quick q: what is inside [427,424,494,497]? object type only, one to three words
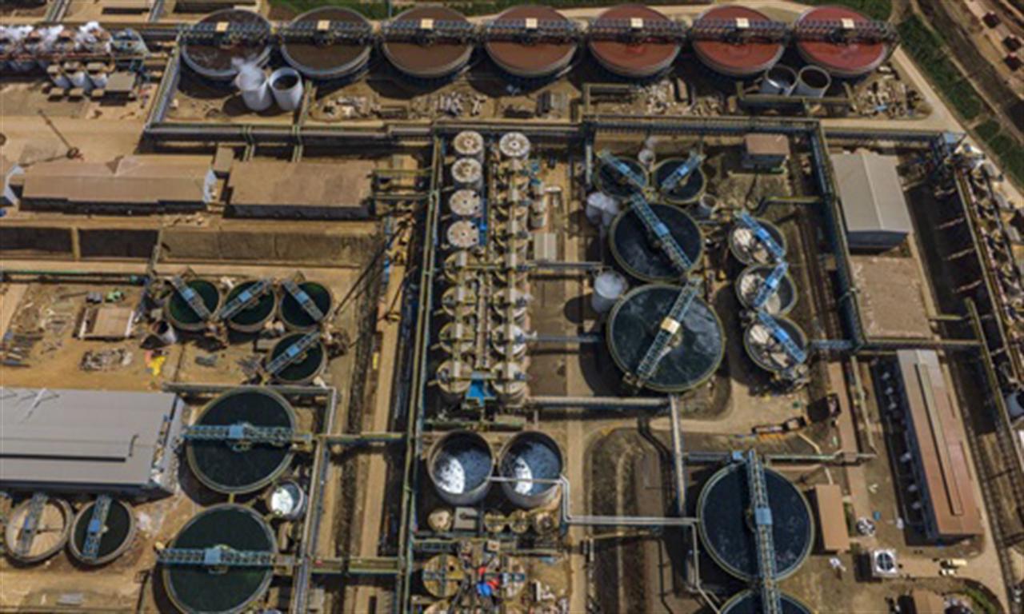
storage tank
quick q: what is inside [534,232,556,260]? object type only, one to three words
shed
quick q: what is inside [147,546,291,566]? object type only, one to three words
bridge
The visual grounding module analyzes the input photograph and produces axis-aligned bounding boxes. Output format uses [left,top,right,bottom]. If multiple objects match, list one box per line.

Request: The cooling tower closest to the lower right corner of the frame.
[867,551,906,581]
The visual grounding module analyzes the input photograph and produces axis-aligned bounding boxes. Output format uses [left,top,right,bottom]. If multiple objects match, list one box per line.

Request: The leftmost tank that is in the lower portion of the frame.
[0,487,78,570]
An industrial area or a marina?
industrial area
